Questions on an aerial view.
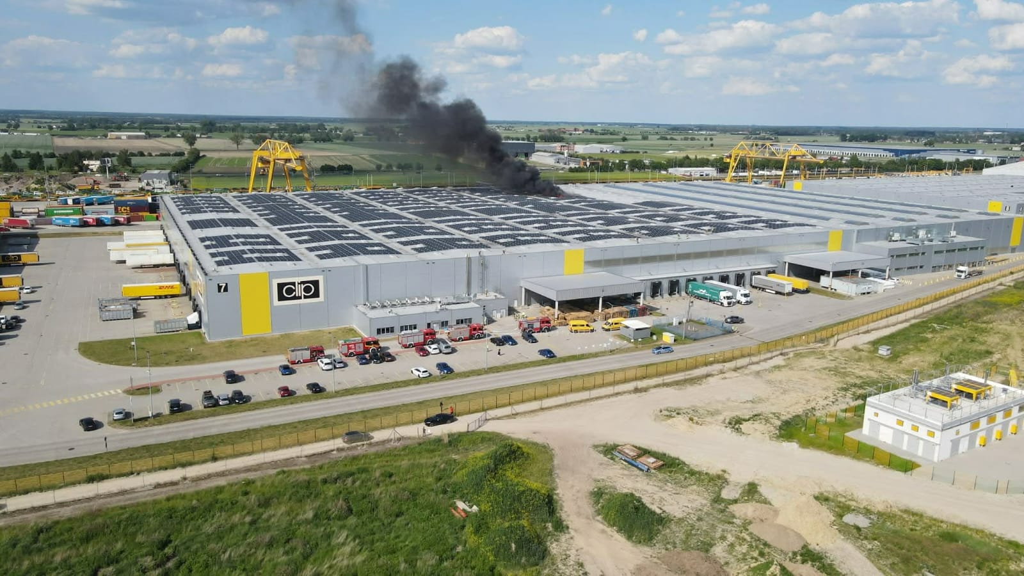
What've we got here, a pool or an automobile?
automobile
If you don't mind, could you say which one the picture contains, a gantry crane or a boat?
gantry crane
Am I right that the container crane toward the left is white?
No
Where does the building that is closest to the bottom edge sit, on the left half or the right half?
right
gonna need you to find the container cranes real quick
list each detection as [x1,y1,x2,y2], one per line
[735,138,822,180]
[247,138,313,192]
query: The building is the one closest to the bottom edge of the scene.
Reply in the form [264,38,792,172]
[859,364,1024,463]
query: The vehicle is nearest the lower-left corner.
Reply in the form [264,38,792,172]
[77,415,100,431]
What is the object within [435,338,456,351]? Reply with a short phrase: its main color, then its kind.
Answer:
gray vehicle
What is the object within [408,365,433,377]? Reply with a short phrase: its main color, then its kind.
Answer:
white vehicle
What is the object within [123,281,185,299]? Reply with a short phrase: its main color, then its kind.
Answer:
yellow trailer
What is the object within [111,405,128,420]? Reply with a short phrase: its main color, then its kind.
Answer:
gray car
